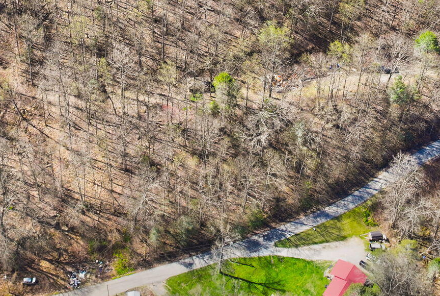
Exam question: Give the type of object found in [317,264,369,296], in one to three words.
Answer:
house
